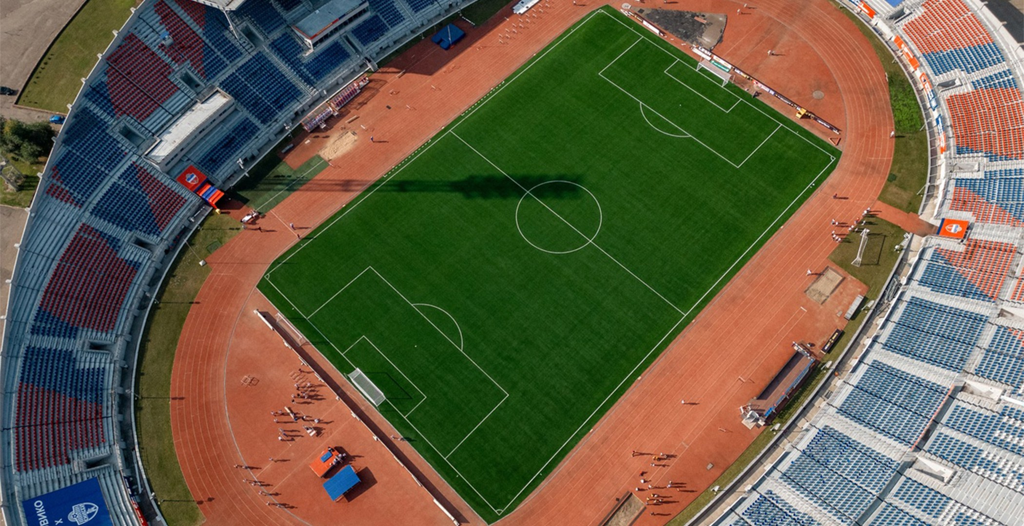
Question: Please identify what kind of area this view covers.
sports ground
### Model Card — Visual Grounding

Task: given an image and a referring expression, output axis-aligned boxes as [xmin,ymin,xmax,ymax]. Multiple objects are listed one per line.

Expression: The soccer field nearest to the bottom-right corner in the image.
[256,4,840,523]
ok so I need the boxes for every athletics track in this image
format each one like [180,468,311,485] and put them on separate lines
[170,0,893,526]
